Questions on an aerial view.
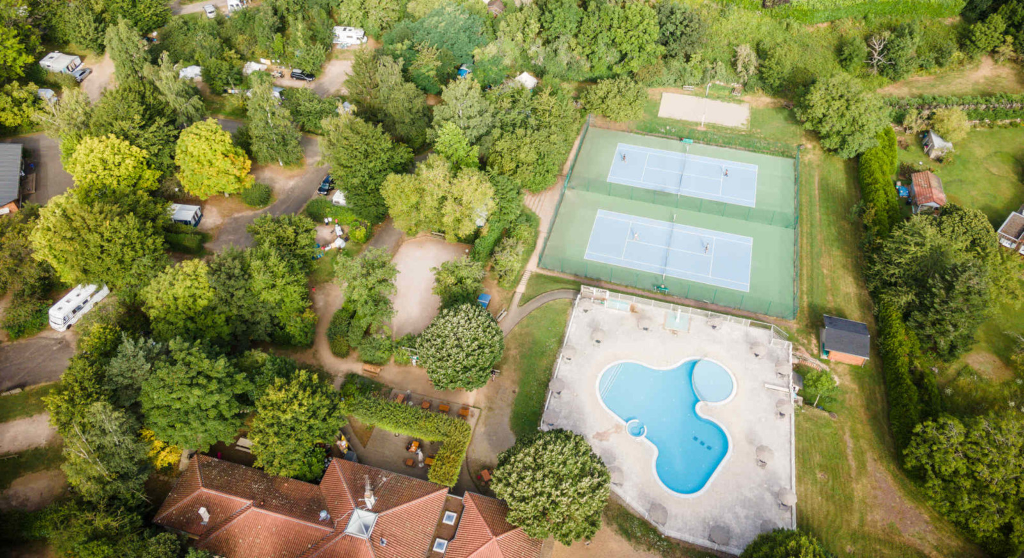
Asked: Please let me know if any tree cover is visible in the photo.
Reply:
Yes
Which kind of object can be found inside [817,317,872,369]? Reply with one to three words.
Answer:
shed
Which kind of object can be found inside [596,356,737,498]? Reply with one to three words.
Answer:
swimming pool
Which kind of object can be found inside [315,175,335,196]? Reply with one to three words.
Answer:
car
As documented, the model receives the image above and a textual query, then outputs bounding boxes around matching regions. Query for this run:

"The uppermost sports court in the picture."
[658,82,750,128]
